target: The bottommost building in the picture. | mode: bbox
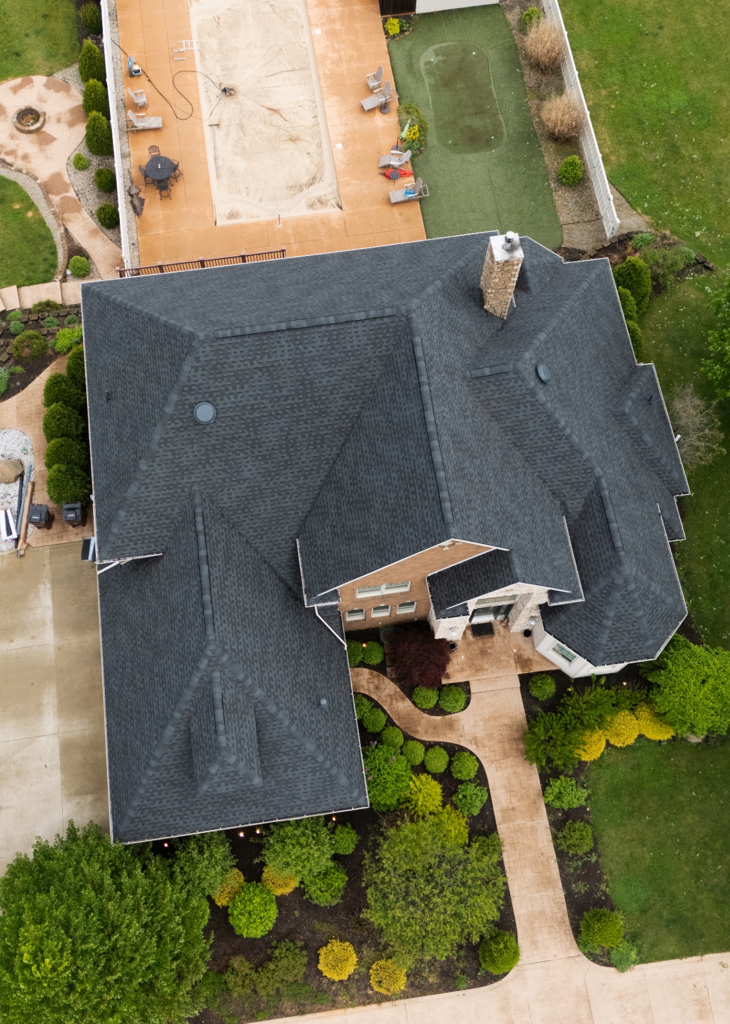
[77,229,693,846]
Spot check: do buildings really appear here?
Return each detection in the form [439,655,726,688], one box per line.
[379,0,499,17]
[77,229,693,846]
